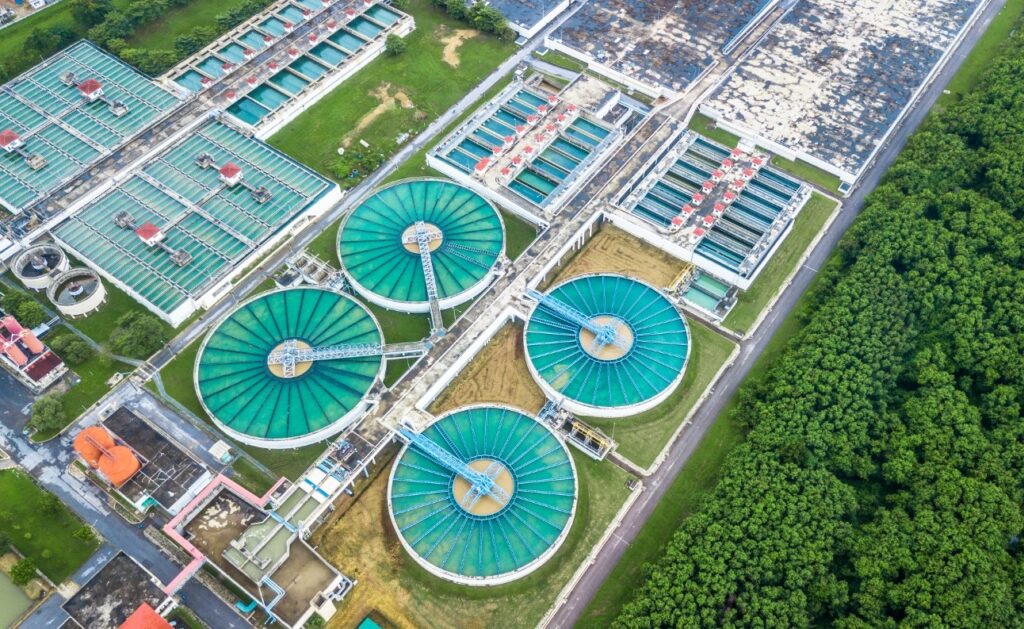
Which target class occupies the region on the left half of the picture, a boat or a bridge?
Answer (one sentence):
It is a bridge that can be seen on the left half of the picture.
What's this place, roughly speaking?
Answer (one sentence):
This looks like an industrial area.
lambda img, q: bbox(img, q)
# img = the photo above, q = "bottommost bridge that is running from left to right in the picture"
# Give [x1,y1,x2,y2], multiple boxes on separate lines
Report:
[267,338,386,376]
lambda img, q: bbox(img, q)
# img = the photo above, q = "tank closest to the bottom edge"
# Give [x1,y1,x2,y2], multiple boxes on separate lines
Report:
[387,403,578,584]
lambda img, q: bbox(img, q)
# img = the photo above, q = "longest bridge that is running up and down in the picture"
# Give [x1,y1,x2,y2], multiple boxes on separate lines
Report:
[403,220,441,302]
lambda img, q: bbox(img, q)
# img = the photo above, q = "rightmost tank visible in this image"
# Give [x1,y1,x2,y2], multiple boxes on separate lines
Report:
[523,270,692,417]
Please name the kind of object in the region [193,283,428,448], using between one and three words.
storage tank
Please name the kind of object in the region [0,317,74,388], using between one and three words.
house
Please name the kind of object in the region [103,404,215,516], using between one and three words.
building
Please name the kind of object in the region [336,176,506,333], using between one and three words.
storage tank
